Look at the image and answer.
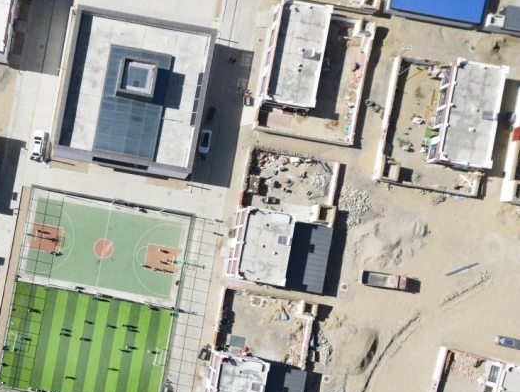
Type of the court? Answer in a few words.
basketball court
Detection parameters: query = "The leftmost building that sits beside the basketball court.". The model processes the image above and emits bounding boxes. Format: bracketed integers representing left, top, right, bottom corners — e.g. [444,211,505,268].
[54,5,217,182]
